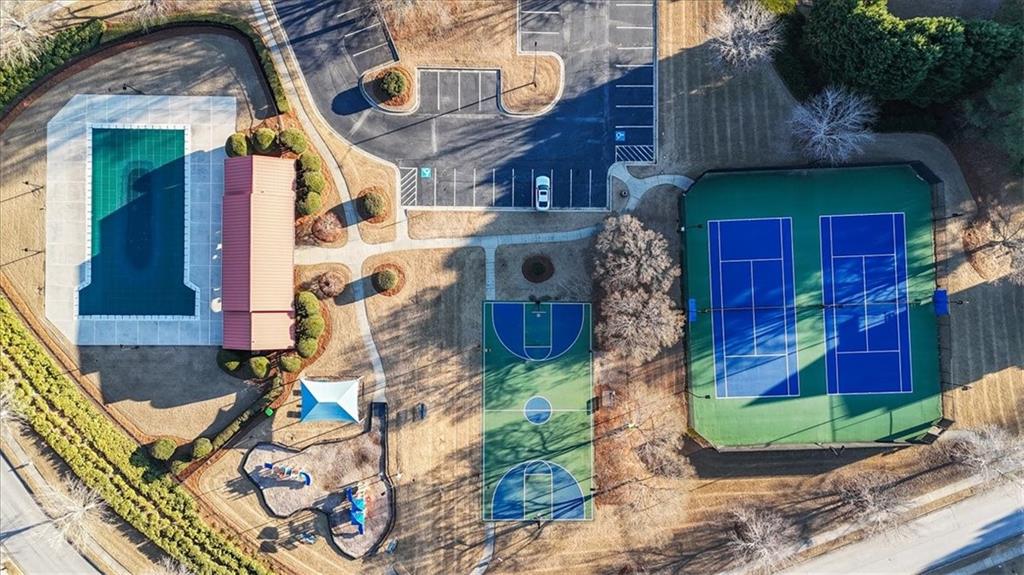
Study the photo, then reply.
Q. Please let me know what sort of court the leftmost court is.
basketball court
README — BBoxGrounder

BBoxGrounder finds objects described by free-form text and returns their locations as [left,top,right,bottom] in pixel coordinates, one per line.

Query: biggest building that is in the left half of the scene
[220,152,298,351]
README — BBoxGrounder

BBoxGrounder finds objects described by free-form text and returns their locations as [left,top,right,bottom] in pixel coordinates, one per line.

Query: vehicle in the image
[535,175,551,210]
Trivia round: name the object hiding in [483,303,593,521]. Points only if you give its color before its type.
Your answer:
green basketball court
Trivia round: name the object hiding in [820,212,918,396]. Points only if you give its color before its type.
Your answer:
blue tennis court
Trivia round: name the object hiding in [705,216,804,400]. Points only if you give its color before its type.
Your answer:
blue tennis court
